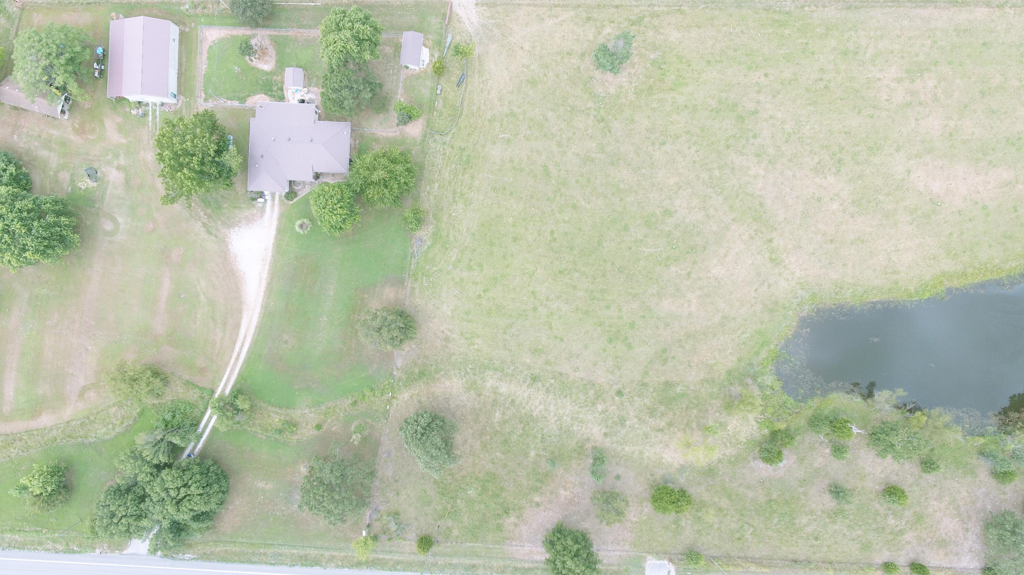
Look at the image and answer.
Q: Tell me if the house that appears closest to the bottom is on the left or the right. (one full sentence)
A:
The house that appears closest to the bottom sits on the left side.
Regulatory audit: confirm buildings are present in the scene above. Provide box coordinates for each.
[0,73,71,119]
[107,15,178,102]
[248,101,352,192]
[285,67,305,91]
[399,30,424,70]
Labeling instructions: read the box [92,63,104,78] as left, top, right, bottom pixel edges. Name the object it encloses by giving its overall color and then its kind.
white vehicle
